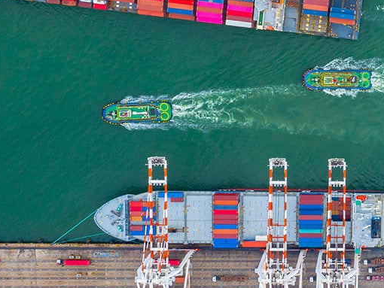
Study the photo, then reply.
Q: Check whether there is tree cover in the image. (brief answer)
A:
No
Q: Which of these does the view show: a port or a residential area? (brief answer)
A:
port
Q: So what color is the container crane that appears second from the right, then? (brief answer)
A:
white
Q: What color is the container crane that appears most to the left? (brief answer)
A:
white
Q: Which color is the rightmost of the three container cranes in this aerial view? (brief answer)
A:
white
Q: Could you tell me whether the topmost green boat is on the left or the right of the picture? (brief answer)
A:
right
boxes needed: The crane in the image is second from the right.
[258,159,313,288]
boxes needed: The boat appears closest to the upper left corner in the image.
[100,99,173,126]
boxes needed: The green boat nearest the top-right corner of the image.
[302,67,372,93]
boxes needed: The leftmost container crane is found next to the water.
[135,159,203,288]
